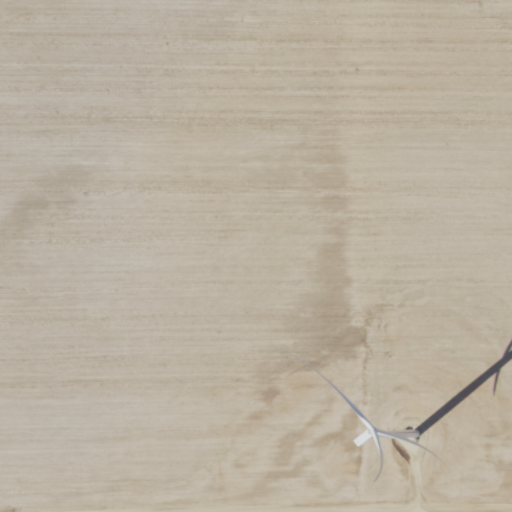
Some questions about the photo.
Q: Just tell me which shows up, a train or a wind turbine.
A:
wind turbine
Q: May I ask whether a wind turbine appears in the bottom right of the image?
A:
Yes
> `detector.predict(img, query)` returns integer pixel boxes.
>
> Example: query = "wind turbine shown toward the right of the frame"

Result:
[318,371,440,480]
